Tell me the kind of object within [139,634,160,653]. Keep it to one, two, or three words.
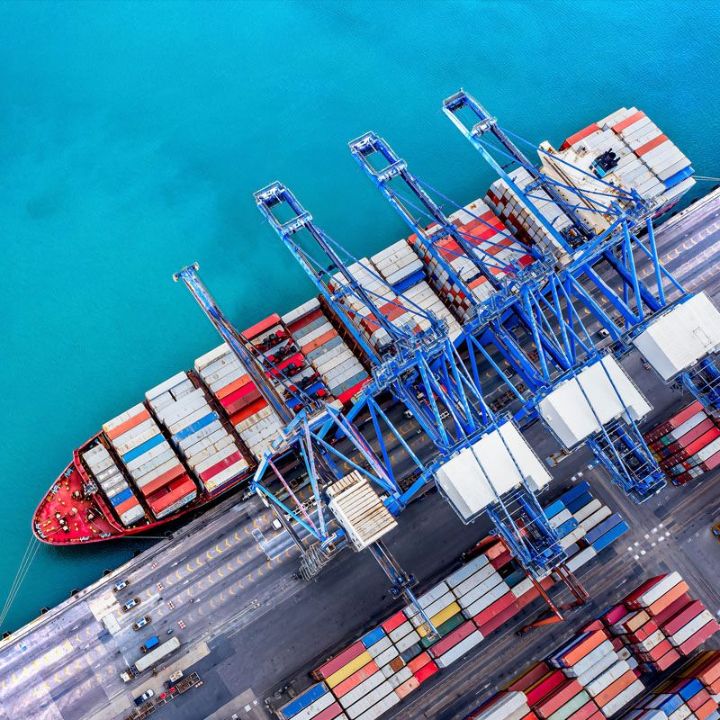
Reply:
vehicle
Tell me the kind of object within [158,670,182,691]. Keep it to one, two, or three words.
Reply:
truck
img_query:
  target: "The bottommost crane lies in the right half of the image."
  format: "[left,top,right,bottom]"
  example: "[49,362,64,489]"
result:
[447,505,597,640]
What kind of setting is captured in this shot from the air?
port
